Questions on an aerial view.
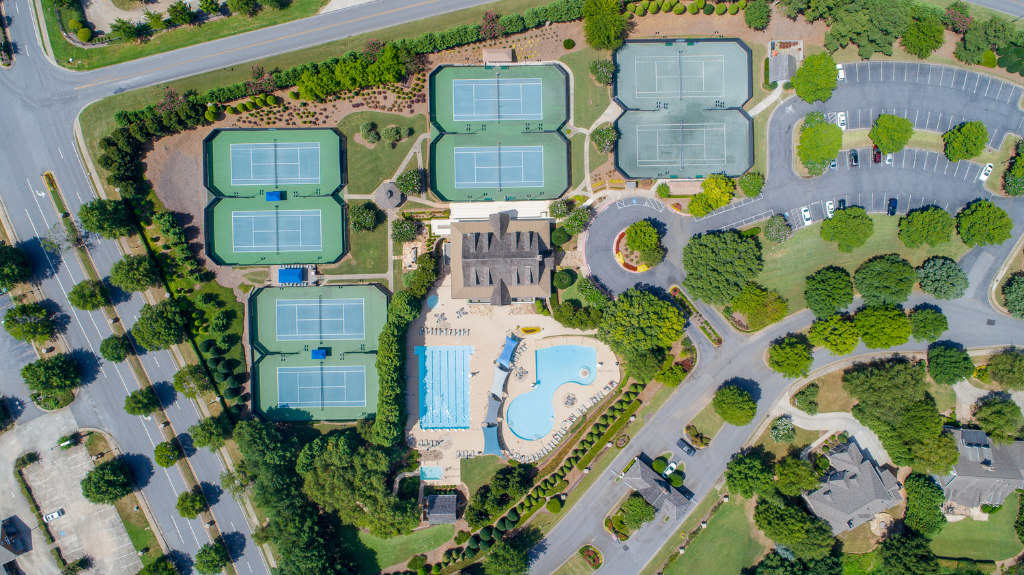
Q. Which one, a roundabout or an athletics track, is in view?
roundabout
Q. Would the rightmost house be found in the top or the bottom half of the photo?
bottom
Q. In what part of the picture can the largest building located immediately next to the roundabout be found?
center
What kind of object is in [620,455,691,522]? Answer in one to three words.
building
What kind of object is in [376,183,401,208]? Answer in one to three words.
gazebo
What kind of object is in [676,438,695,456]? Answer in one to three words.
vehicle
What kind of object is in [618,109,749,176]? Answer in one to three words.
tennis court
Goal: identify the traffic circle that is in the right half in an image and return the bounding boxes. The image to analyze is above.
[584,196,692,299]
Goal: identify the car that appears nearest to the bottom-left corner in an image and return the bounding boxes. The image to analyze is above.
[44,508,66,522]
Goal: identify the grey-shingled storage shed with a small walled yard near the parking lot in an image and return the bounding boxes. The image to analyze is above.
[767,40,803,85]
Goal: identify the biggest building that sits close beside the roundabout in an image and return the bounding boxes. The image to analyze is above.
[444,212,555,306]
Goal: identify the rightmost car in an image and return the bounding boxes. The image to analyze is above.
[978,163,992,181]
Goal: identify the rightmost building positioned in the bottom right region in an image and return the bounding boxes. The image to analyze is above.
[935,429,1024,508]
